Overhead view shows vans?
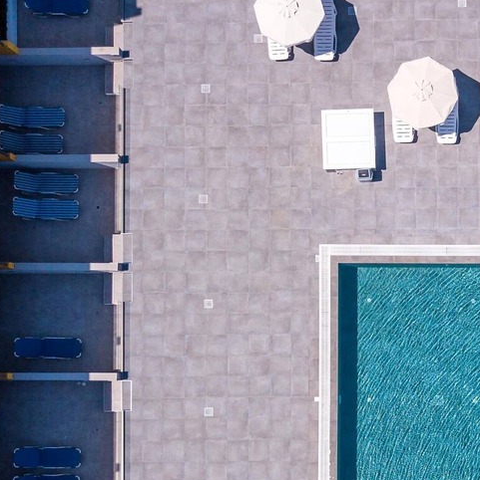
No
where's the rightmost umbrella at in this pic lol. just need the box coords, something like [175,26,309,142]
[387,57,459,130]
